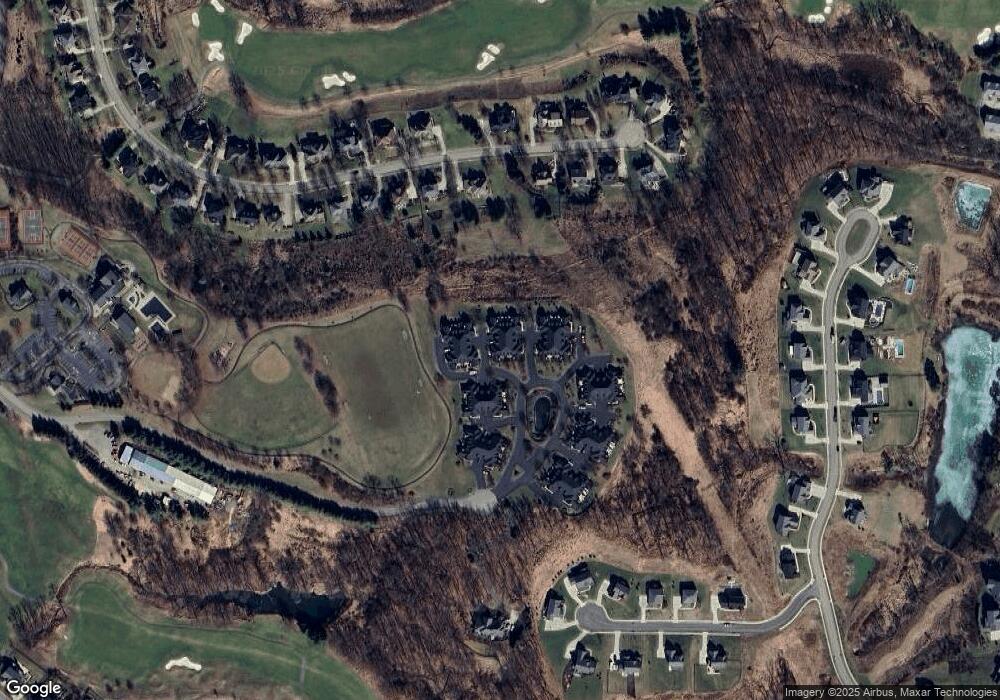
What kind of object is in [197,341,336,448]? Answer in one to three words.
baseball field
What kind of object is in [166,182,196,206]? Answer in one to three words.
house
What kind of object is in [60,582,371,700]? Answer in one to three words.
golf course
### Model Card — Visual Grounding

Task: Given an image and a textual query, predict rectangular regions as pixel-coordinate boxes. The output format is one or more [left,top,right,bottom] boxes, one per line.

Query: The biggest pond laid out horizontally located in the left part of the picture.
[171,585,349,642]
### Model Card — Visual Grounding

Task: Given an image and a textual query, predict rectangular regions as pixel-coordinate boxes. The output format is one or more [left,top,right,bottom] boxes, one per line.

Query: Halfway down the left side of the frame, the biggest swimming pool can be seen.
[137,292,176,324]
